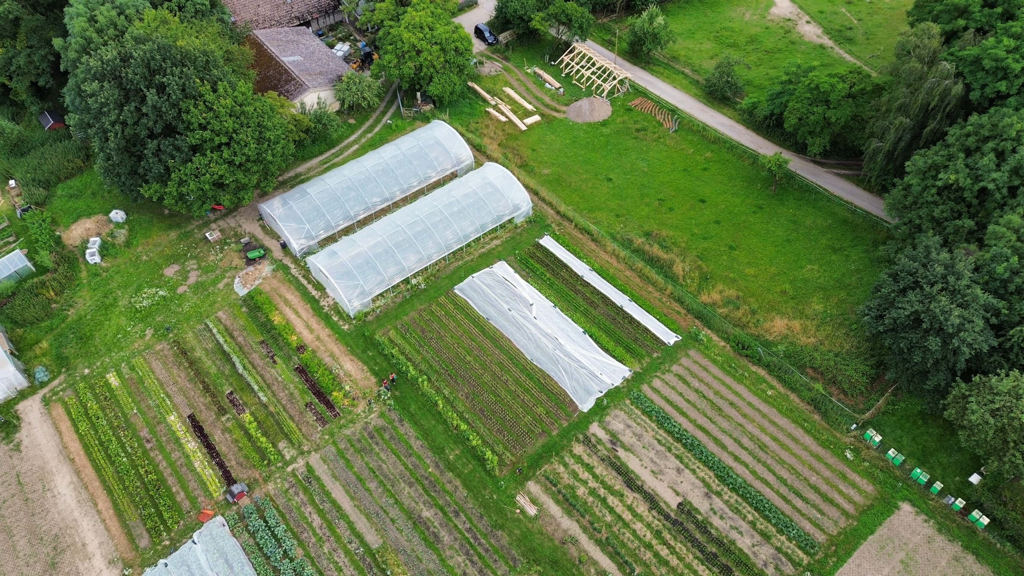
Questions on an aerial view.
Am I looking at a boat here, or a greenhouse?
greenhouse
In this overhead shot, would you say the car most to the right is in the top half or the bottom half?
top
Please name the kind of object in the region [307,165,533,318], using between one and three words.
greenhouse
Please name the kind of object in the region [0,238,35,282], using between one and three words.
greenhouse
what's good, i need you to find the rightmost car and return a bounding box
[473,23,498,45]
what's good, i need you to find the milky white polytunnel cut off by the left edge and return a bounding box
[0,350,31,404]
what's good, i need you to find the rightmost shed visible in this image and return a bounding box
[554,41,642,103]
